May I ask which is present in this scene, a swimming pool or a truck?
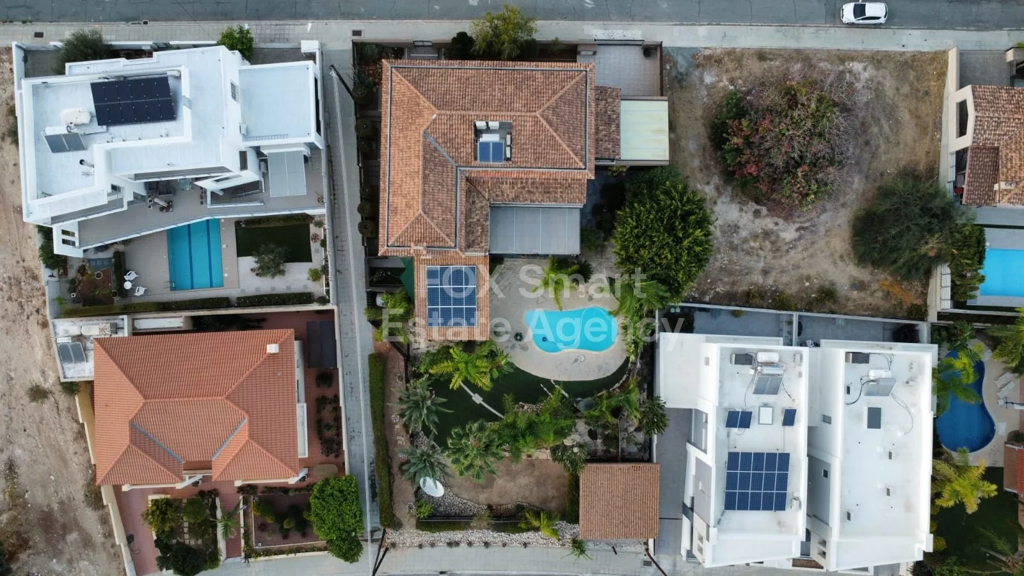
swimming pool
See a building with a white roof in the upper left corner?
Yes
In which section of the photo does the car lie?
top right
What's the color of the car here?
white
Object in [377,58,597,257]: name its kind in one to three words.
house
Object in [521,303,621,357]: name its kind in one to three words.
swimming pool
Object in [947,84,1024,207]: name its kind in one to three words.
house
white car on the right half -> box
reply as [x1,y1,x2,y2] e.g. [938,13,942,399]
[844,0,892,25]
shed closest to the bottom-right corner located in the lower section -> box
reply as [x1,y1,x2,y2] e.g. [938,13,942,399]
[985,438,1024,493]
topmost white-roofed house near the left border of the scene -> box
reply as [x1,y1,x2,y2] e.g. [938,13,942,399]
[19,46,322,257]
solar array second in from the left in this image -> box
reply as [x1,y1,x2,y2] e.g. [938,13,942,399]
[427,266,477,327]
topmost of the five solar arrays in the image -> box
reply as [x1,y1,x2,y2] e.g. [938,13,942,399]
[90,77,176,126]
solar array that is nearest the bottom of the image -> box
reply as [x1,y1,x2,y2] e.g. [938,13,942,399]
[724,452,789,511]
